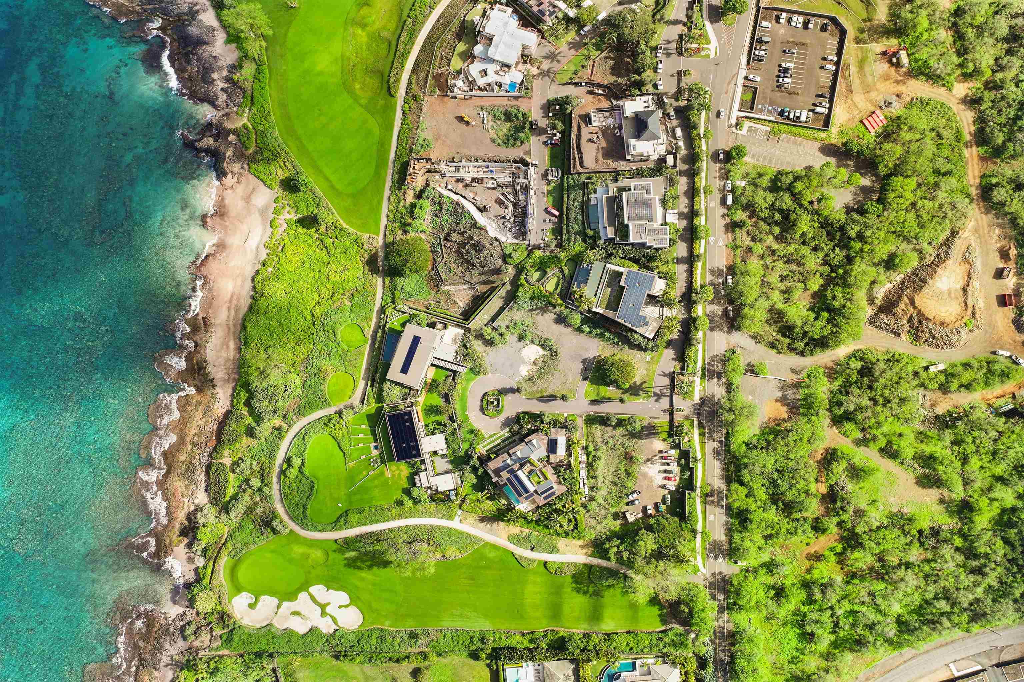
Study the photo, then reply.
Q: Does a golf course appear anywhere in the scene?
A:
Yes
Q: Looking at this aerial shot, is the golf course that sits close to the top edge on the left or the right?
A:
left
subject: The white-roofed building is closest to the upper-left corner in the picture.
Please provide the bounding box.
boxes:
[456,3,541,92]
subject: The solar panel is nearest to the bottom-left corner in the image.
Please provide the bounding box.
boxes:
[387,411,421,461]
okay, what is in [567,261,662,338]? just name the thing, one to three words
house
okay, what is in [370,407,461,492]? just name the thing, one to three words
house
